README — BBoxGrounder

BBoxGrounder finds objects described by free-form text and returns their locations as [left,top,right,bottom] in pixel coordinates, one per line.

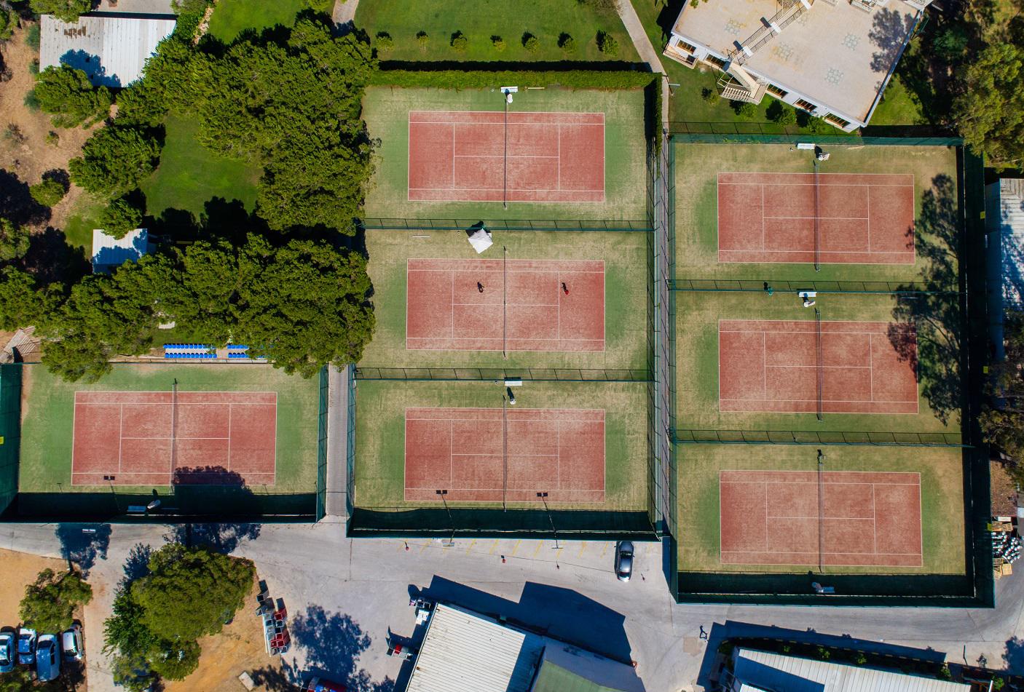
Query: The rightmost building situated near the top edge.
[662,0,928,134]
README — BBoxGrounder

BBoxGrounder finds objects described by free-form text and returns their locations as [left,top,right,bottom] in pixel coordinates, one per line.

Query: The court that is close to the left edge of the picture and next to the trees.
[18,364,321,516]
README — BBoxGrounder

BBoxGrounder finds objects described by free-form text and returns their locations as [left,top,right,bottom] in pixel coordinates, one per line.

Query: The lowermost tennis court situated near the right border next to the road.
[669,442,976,597]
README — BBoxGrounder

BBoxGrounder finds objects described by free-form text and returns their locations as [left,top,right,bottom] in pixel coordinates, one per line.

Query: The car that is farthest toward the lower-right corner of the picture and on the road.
[615,541,634,582]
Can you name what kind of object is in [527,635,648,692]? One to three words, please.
building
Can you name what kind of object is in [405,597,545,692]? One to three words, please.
building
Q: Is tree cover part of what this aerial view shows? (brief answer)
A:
Yes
